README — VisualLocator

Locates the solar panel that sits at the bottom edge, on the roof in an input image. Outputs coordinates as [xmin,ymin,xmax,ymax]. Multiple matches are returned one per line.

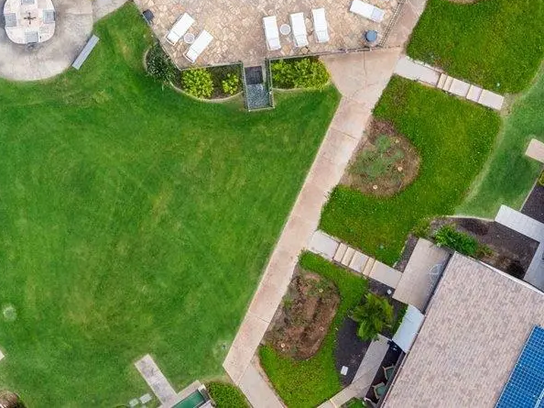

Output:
[497,327,544,408]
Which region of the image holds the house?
bottom right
